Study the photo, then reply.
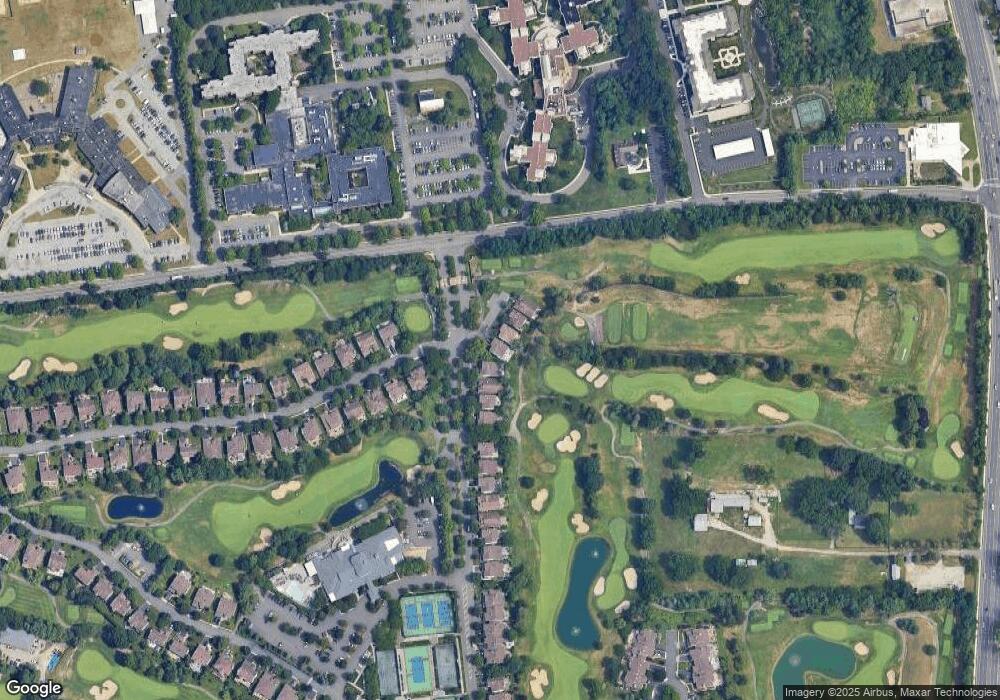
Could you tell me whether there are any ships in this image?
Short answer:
No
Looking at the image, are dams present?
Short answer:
No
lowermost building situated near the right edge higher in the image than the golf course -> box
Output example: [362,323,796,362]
[911,123,970,176]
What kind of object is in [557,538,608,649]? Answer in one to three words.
pond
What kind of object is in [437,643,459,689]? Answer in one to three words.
tennis court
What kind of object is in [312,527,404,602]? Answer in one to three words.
building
